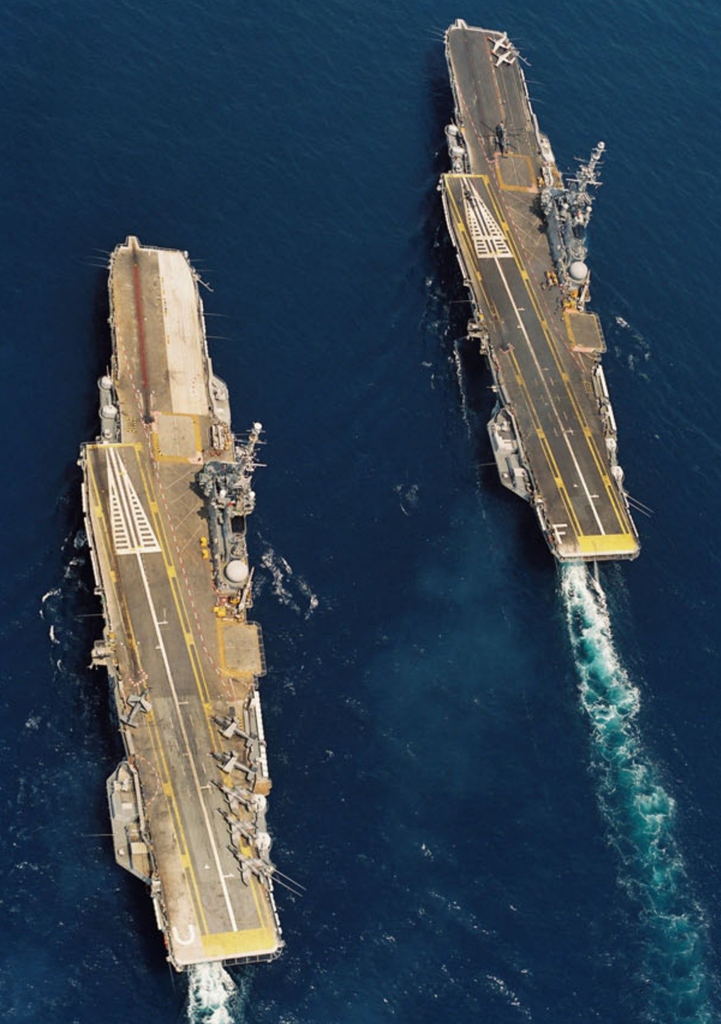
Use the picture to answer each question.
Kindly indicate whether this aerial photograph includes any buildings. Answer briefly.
No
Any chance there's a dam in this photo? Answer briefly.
No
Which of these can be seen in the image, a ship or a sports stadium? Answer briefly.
ship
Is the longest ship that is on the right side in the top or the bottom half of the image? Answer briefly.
top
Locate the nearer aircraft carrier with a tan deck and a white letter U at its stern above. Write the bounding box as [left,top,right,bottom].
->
[76,235,307,973]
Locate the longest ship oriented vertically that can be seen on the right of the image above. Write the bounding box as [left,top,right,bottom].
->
[428,18,657,563]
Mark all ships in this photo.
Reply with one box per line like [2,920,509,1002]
[76,235,307,973]
[428,18,657,563]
